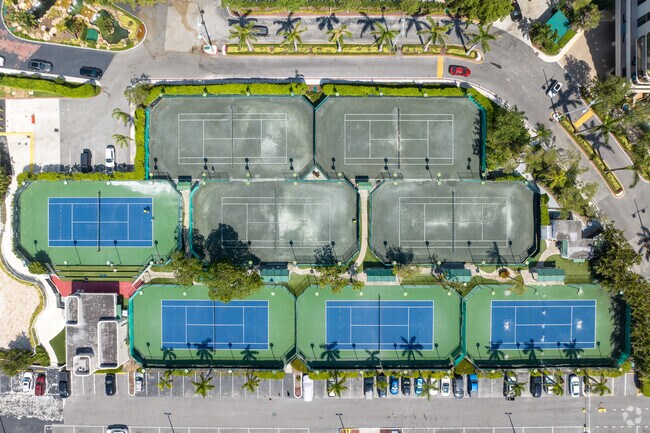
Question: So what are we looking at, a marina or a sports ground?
sports ground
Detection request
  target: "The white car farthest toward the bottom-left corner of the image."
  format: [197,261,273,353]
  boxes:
[23,370,35,392]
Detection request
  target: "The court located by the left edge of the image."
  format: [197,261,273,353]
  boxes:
[19,181,182,264]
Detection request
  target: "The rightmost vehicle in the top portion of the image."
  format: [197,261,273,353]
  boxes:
[546,79,564,97]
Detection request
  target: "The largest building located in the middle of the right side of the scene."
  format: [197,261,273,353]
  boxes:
[543,220,604,263]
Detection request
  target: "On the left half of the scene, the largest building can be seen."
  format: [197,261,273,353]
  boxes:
[66,291,136,377]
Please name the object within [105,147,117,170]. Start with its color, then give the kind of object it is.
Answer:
white vehicle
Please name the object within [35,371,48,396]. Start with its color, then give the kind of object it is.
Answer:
red vehicle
